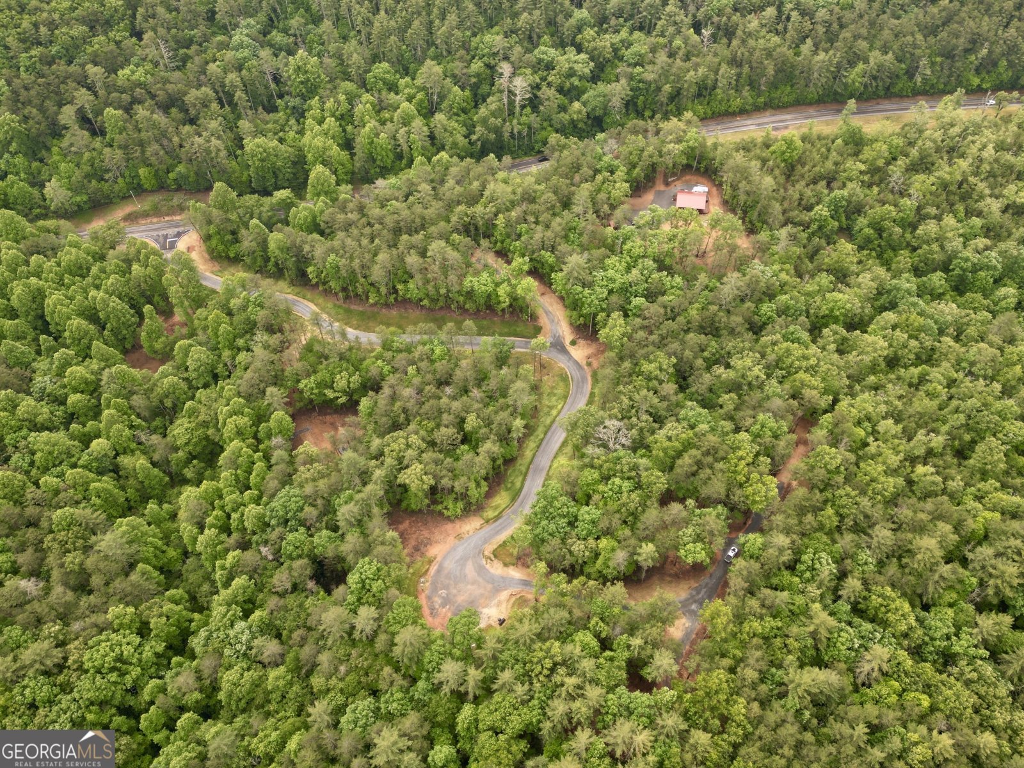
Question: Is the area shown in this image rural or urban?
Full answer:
It looks rural.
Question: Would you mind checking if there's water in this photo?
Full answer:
No, water can't be seen anywhere here.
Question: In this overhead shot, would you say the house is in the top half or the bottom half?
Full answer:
The top half of the photo is where the house is.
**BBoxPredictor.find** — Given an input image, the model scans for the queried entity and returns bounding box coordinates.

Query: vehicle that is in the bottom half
[726,545,738,560]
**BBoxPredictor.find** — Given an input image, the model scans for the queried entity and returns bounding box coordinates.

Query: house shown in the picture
[672,190,709,219]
